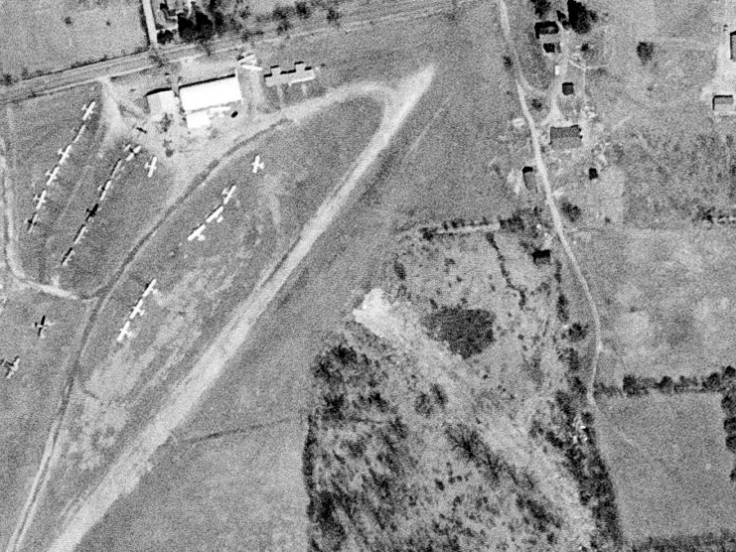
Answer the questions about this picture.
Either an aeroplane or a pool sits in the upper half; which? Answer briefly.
aeroplane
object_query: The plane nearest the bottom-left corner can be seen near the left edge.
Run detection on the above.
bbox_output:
[0,357,19,378]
